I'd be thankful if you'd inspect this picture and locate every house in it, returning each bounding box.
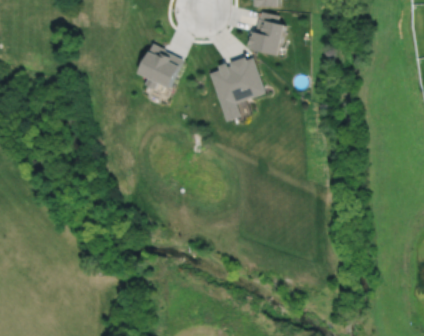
[246,10,288,57]
[255,0,281,8]
[138,44,182,88]
[212,56,266,122]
